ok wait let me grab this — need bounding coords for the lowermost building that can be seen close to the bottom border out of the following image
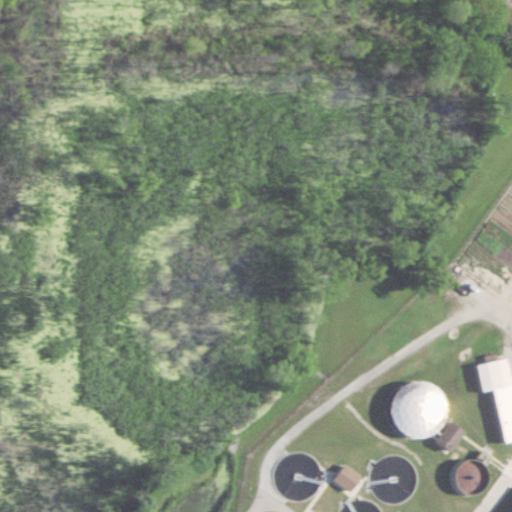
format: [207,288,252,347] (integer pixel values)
[332,466,361,492]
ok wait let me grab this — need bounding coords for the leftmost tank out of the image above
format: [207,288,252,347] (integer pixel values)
[273,452,324,502]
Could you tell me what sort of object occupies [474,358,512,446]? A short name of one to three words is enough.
building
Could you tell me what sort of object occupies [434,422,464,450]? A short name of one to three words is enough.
building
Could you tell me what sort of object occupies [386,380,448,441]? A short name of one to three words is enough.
storage tank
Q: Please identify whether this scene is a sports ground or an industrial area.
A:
industrial area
